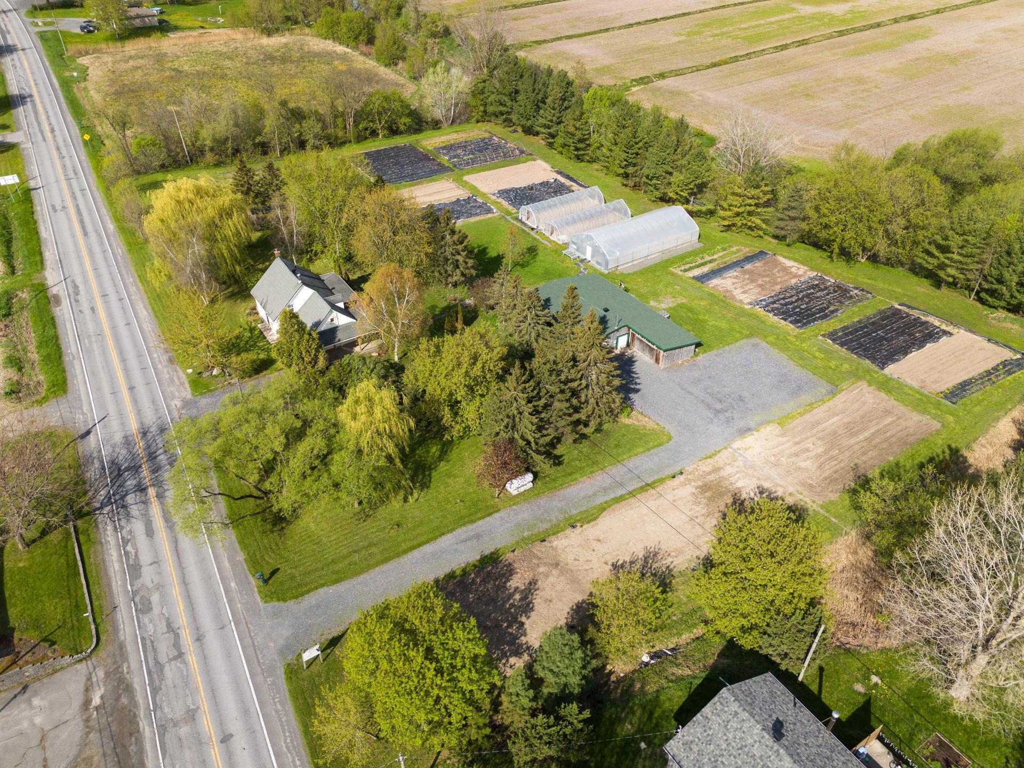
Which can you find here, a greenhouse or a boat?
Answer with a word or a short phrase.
greenhouse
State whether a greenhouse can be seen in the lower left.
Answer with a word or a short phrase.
No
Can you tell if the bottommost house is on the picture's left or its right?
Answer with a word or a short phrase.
right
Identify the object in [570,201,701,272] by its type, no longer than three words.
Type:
greenhouse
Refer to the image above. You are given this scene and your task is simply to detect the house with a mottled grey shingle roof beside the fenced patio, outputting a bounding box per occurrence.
[660,665,870,768]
